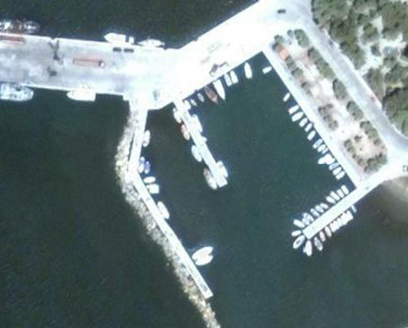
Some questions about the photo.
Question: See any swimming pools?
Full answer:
No, the photo shows no swimming pool.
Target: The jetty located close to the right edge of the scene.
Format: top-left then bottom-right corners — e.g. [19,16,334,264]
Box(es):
[303,183,389,240]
